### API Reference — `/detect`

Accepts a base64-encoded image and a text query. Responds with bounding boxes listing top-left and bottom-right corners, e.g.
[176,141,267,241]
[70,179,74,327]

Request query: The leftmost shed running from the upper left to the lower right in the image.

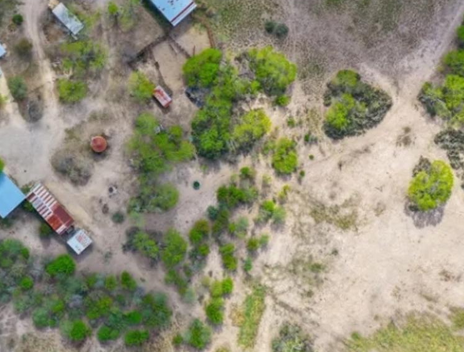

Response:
[26,184,75,234]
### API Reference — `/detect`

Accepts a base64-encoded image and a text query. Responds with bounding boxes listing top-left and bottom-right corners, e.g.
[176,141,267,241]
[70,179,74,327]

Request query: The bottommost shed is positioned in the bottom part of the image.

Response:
[67,229,92,255]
